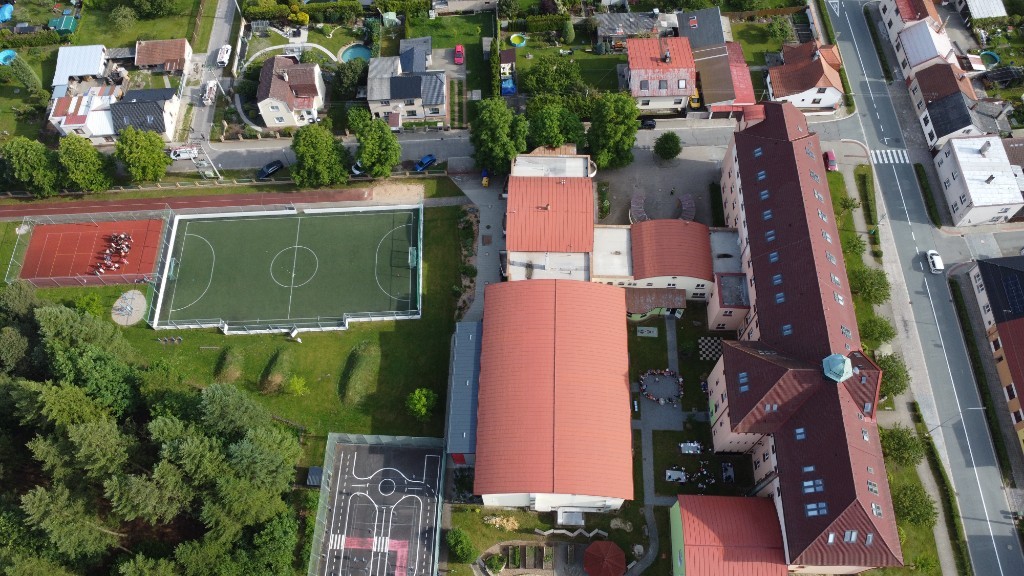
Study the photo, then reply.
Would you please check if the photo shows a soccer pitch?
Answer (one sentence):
Yes, a soccer pitch appears in the view.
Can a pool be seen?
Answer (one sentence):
Yes, I can see a pool in this picture.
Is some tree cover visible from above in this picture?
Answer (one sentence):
Yes, the picture does contain tree cover.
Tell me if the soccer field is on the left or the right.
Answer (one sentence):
The soccer field sits on the left side.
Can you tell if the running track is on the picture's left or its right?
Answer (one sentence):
It is on the left.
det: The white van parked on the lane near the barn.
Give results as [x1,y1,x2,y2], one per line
[216,41,232,68]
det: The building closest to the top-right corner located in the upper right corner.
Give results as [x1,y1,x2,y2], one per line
[950,0,1007,35]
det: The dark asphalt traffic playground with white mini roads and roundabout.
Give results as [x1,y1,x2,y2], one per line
[318,443,442,576]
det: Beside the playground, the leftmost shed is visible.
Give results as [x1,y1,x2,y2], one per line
[307,467,326,488]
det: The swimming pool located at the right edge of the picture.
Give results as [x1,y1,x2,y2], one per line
[982,51,1000,69]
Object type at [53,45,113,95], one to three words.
barn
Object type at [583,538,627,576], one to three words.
gazebo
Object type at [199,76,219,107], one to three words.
vehicle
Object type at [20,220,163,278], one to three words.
sports court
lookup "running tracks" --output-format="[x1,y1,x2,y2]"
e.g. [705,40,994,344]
[0,188,372,218]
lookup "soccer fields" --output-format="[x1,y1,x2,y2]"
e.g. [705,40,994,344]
[155,206,423,336]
